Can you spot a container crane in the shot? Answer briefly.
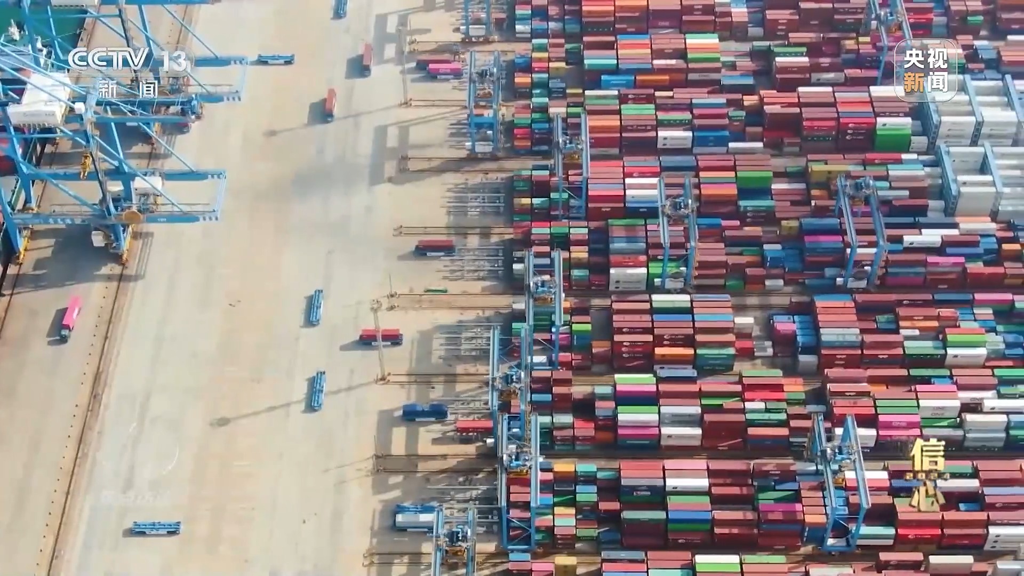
Yes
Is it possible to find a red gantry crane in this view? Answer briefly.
No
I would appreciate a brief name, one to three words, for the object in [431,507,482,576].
container crane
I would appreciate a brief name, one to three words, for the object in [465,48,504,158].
container crane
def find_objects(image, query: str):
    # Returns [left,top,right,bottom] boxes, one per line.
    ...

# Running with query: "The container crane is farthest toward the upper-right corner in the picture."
[867,0,917,100]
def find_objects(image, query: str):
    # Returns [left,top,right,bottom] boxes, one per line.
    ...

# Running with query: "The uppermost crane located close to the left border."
[0,0,247,148]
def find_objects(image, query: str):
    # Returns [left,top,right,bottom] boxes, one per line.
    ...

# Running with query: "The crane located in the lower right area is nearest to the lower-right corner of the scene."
[806,415,870,557]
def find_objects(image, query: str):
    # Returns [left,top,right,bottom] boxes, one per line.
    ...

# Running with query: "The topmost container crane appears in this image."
[459,0,495,42]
